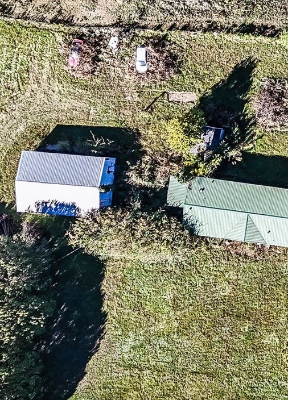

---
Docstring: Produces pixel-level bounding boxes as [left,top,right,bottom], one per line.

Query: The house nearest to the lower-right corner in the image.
[166,175,288,245]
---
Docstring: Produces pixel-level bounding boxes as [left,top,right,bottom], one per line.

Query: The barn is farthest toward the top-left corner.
[10,151,117,215]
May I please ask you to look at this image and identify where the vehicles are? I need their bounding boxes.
[67,39,83,67]
[134,45,149,74]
